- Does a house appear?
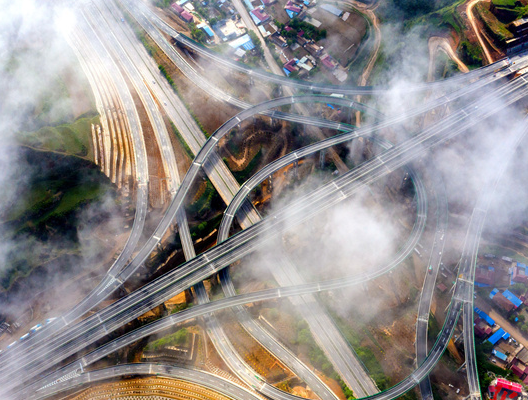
Yes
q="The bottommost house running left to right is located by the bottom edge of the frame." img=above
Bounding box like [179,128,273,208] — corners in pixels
[485,376,522,395]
